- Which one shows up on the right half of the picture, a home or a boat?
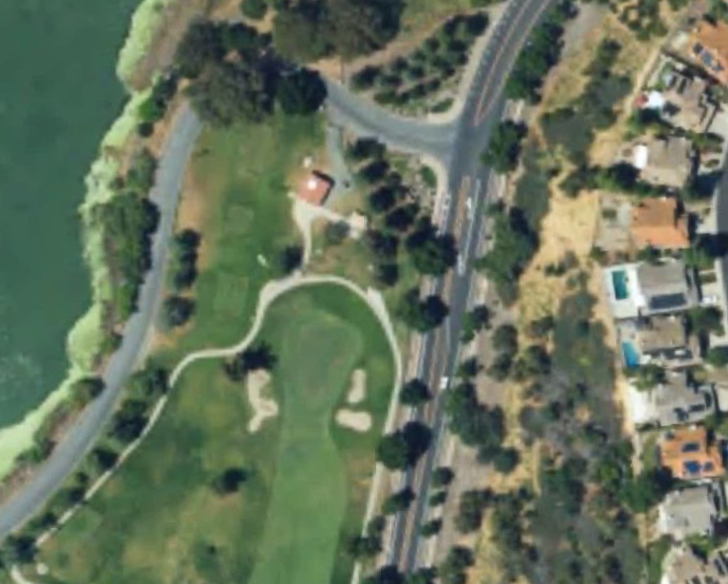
home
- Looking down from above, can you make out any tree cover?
Yes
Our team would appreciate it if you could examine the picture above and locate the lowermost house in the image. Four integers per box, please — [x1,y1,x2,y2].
[664,546,728,584]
